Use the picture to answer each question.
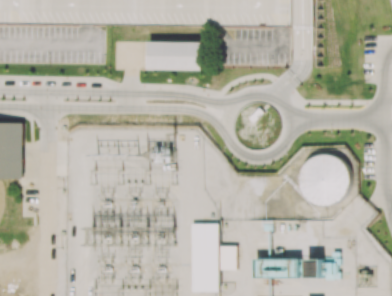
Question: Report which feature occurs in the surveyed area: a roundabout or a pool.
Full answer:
This aerial view contains a roundabout.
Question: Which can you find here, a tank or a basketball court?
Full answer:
Of the two, only a tank appears.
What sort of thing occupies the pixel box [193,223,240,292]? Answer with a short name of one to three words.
building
